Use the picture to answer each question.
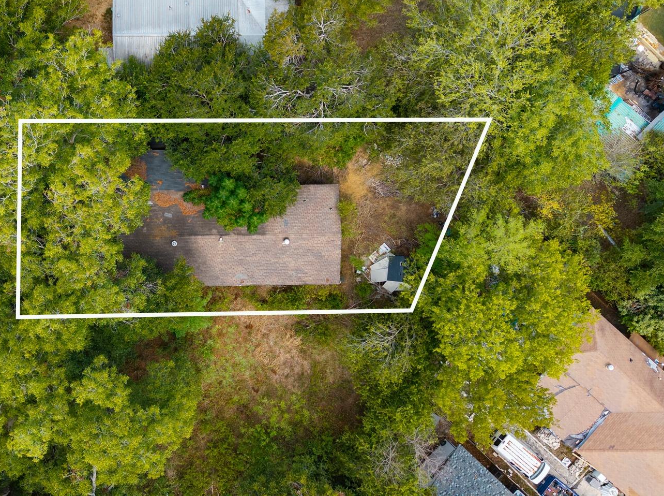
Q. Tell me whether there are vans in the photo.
Yes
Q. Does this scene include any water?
No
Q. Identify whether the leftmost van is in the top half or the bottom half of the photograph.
bottom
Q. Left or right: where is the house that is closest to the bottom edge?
right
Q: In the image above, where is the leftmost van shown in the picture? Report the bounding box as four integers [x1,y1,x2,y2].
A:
[489,429,550,487]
